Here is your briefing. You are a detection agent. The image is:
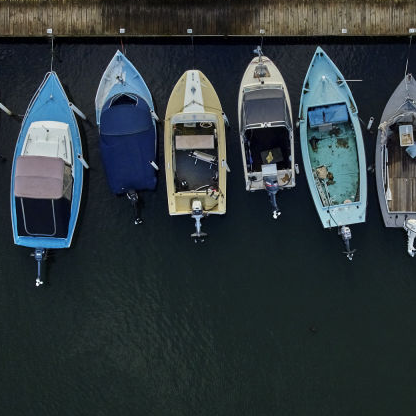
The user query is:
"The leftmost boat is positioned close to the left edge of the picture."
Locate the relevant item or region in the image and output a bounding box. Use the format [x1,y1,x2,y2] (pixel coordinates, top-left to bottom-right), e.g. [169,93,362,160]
[10,71,84,287]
